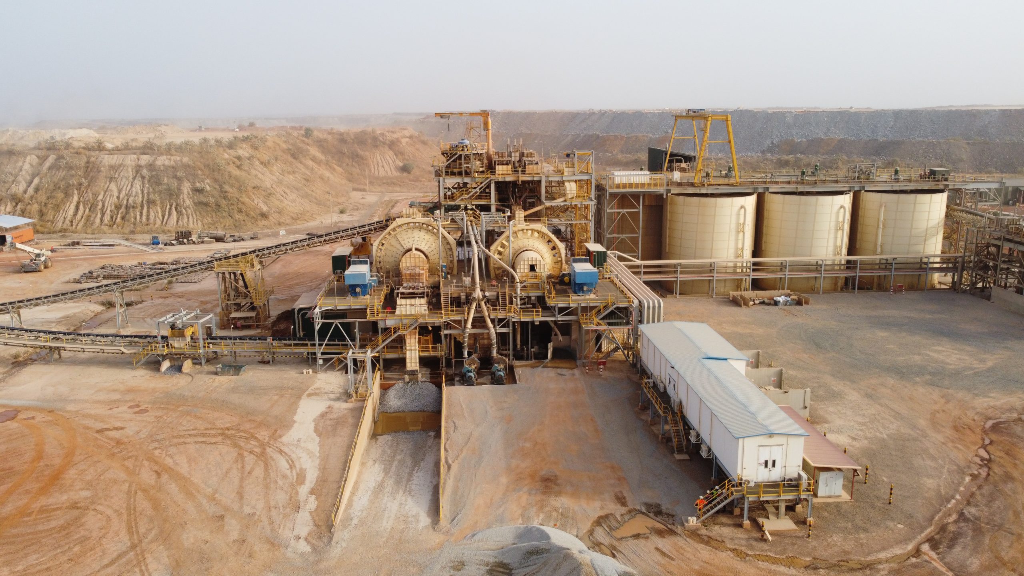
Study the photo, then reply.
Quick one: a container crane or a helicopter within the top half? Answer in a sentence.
There is a container crane within the top half.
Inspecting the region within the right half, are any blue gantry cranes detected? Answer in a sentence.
No, looking within the right half, there is no blue gantry crane.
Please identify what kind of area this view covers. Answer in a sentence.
This image shows an industrial area.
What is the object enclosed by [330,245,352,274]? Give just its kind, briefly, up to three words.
shed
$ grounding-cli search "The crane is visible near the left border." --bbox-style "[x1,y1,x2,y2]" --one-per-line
[0,234,67,272]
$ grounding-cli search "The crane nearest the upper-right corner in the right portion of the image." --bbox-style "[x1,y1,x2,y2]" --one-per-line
[660,105,743,185]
